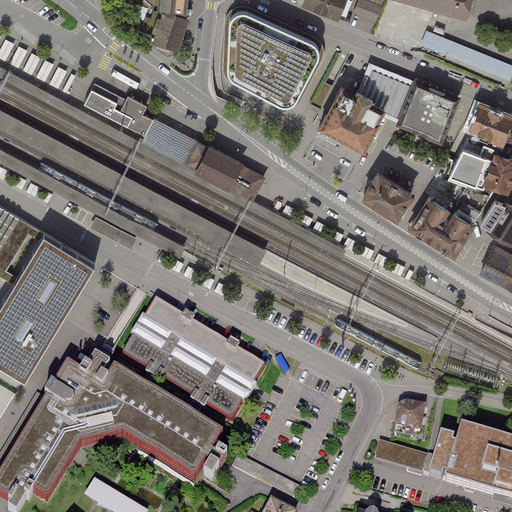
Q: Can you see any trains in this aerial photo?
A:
Yes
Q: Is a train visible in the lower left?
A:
No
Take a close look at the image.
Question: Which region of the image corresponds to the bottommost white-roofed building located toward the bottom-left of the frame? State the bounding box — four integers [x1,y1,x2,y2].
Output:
[85,478,154,512]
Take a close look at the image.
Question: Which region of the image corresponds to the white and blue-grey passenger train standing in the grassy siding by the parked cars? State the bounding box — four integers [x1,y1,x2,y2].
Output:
[335,320,420,367]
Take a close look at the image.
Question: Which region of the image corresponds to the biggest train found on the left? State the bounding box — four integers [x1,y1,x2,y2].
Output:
[40,166,158,230]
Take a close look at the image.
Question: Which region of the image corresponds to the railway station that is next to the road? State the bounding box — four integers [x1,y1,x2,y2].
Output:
[0,66,512,346]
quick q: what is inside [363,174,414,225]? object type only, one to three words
house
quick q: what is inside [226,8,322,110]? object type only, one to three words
building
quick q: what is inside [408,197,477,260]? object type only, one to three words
house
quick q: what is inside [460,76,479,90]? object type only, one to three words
vehicle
